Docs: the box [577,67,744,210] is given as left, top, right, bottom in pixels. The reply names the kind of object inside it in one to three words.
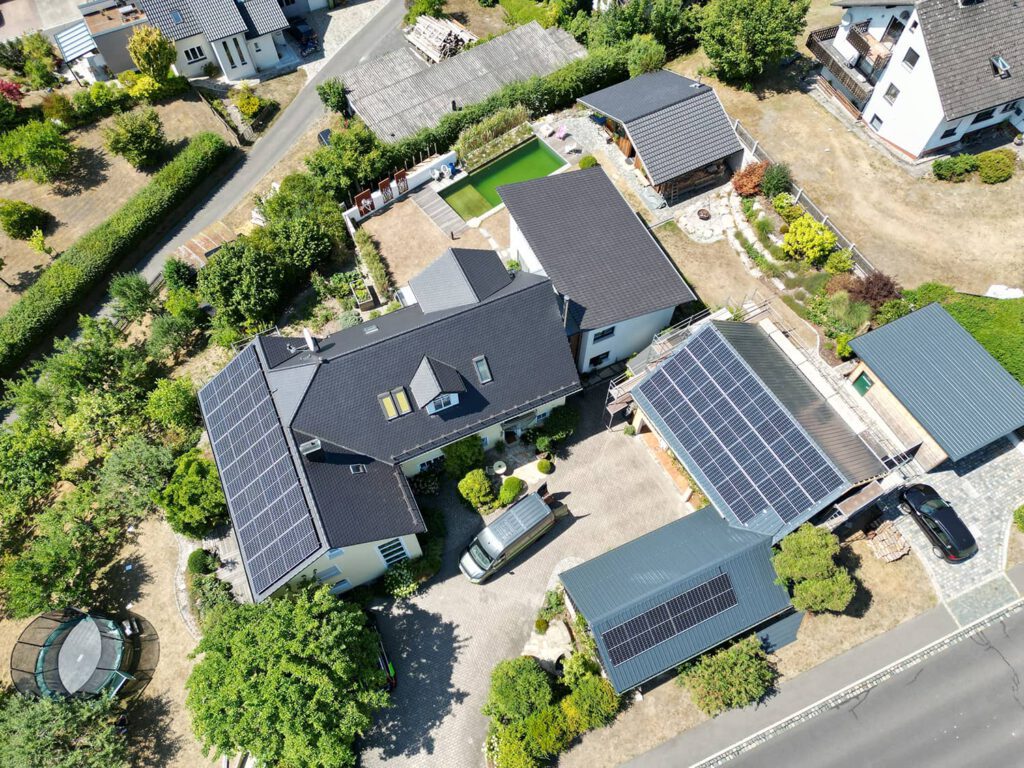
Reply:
barn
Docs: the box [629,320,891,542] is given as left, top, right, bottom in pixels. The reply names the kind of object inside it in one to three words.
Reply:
barn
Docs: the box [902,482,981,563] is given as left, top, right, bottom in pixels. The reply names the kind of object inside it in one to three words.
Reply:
car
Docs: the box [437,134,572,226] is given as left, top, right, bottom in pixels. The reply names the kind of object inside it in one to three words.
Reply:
swimming pool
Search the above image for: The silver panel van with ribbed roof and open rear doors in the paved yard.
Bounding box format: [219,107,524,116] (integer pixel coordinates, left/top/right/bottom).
[458,477,573,590]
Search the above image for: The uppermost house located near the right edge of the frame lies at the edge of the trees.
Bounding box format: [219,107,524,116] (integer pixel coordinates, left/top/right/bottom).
[810,0,1024,160]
